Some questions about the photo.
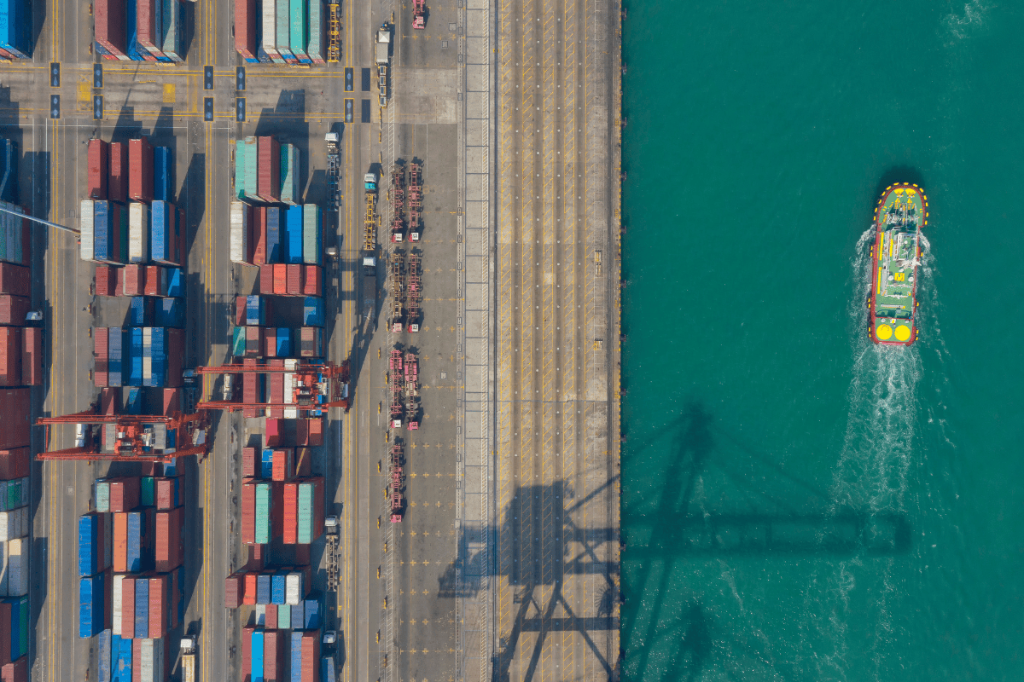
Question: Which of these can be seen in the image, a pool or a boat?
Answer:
boat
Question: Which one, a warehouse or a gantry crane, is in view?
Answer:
gantry crane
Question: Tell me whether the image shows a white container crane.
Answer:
No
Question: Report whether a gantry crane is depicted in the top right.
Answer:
No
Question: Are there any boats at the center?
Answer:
No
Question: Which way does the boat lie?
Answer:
vertically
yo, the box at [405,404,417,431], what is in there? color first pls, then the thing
pink vehicle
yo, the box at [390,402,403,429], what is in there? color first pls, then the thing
white vehicle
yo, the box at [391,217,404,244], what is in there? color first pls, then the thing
white vehicle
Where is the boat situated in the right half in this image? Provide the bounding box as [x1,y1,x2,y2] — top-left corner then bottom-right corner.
[865,182,929,345]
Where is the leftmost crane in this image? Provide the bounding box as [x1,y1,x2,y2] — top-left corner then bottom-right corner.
[36,402,209,466]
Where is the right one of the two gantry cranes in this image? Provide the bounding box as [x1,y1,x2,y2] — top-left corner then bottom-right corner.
[195,357,352,420]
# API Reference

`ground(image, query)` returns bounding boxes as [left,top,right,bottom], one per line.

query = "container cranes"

[195,357,352,420]
[36,402,209,466]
